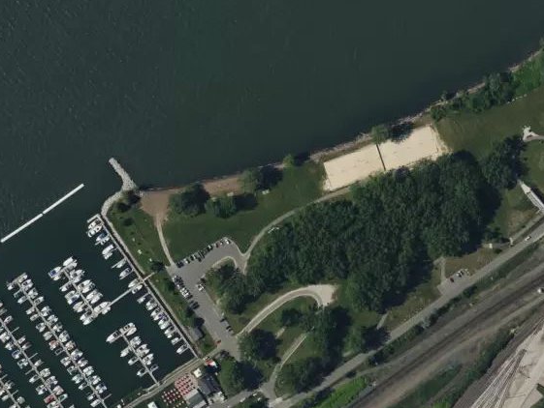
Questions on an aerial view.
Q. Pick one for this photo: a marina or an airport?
marina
